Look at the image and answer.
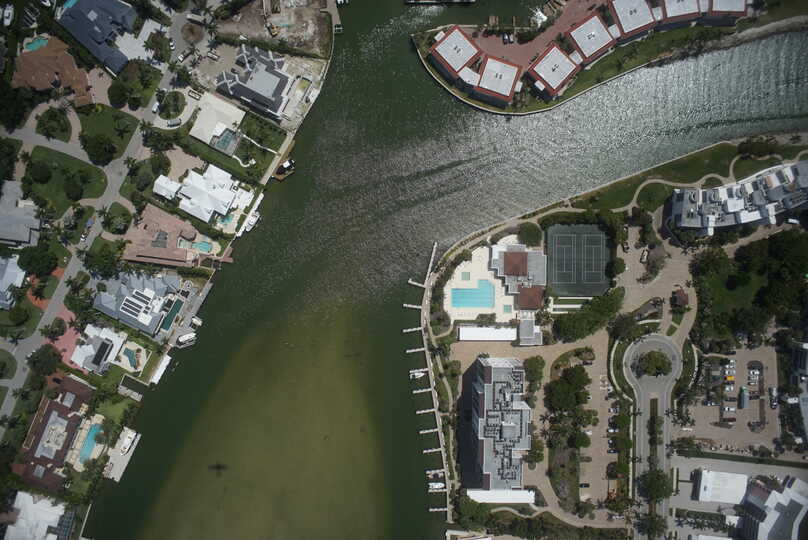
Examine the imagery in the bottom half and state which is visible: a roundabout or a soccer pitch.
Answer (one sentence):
The feature located in the bottom half is a roundabout.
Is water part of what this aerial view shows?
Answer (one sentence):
Yes, the picture does contain water.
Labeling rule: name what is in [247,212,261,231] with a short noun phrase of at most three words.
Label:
boat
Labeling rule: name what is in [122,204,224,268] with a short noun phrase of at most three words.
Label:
house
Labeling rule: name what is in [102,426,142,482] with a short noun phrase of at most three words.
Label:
pier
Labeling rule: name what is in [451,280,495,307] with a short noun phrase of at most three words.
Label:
swimming pool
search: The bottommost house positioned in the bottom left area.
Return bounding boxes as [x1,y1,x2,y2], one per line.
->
[6,490,66,540]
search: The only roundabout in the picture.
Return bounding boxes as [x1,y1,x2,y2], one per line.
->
[624,334,683,392]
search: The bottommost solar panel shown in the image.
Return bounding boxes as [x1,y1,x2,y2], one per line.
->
[92,340,110,367]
